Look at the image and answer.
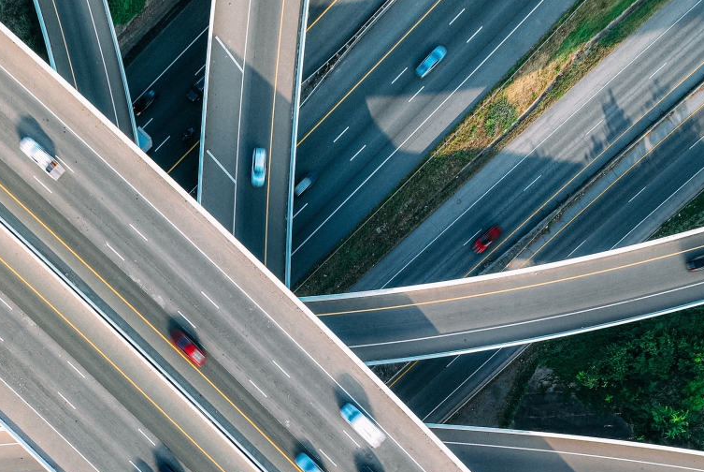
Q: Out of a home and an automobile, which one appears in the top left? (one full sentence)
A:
Looking in the top left, you will find an automobile.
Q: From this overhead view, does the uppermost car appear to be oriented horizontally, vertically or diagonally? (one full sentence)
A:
In this picture, the uppermost car lies diagonally.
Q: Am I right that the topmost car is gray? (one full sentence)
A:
No, the topmost car is blue.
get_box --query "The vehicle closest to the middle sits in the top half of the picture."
[293,165,324,196]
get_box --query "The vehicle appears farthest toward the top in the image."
[414,44,446,76]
